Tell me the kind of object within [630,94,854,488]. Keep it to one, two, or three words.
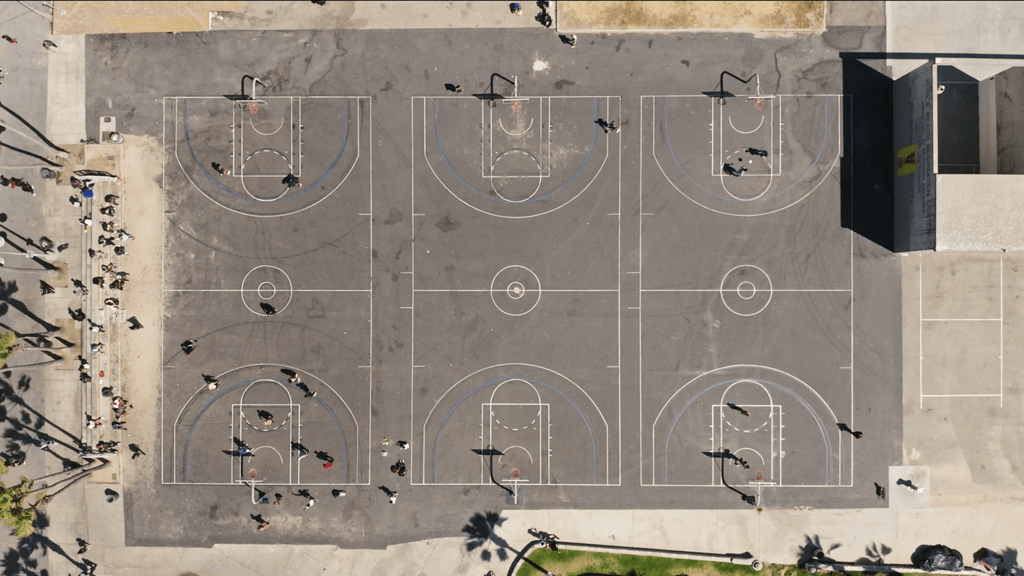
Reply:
basketball court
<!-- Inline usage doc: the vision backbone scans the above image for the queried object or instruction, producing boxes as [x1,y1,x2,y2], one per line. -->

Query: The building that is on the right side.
[894,57,1024,256]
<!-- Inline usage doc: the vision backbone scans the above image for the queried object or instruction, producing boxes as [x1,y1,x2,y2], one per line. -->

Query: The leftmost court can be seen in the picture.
[162,95,373,486]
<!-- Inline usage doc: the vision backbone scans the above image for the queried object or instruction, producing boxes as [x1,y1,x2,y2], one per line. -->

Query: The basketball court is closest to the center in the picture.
[400,95,623,487]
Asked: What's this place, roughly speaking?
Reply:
sports ground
